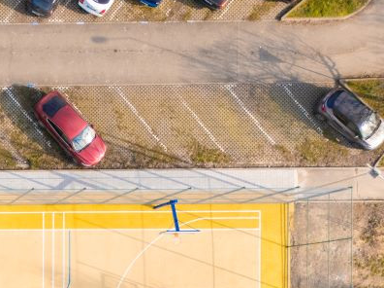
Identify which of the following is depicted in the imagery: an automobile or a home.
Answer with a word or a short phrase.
automobile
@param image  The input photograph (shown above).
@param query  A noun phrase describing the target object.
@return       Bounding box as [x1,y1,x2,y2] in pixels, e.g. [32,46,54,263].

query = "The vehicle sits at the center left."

[41,90,110,167]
